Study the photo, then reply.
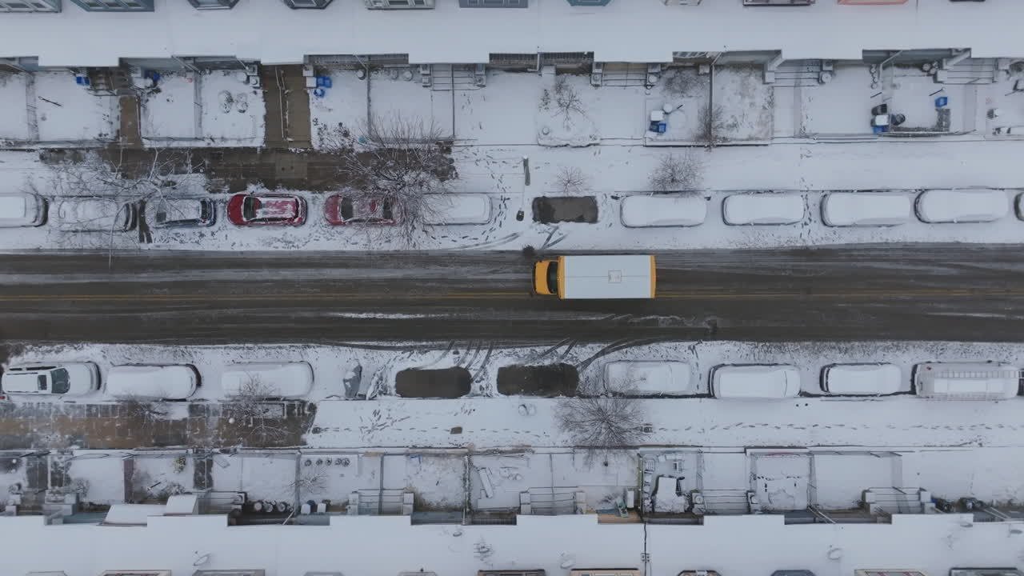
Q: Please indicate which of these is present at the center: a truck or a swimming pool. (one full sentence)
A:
The one visible at the center is a truck.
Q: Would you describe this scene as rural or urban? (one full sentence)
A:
The area shown here is urban.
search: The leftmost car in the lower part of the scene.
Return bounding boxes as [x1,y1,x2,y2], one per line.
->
[0,362,105,401]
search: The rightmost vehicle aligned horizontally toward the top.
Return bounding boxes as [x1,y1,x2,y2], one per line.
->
[911,188,1012,225]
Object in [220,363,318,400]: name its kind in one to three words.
car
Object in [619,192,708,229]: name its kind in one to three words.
vehicle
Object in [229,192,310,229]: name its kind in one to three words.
car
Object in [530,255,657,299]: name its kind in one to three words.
truck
